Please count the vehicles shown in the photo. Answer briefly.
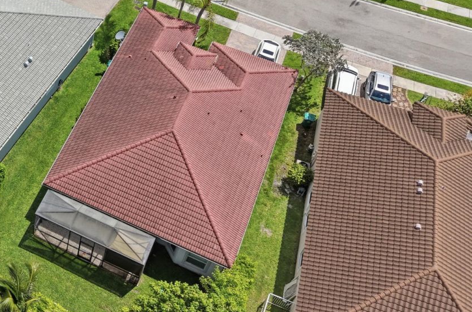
3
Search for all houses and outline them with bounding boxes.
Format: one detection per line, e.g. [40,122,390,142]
[292,86,472,312]
[0,0,105,162]
[41,5,299,277]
